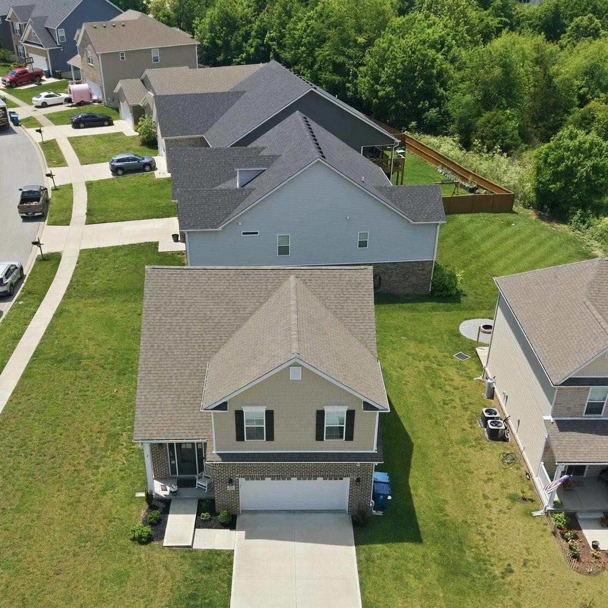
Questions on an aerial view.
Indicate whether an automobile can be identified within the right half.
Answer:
No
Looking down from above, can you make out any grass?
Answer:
Yes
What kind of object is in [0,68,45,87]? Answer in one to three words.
vehicle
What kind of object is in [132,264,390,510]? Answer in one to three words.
house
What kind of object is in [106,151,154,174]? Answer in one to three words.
car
